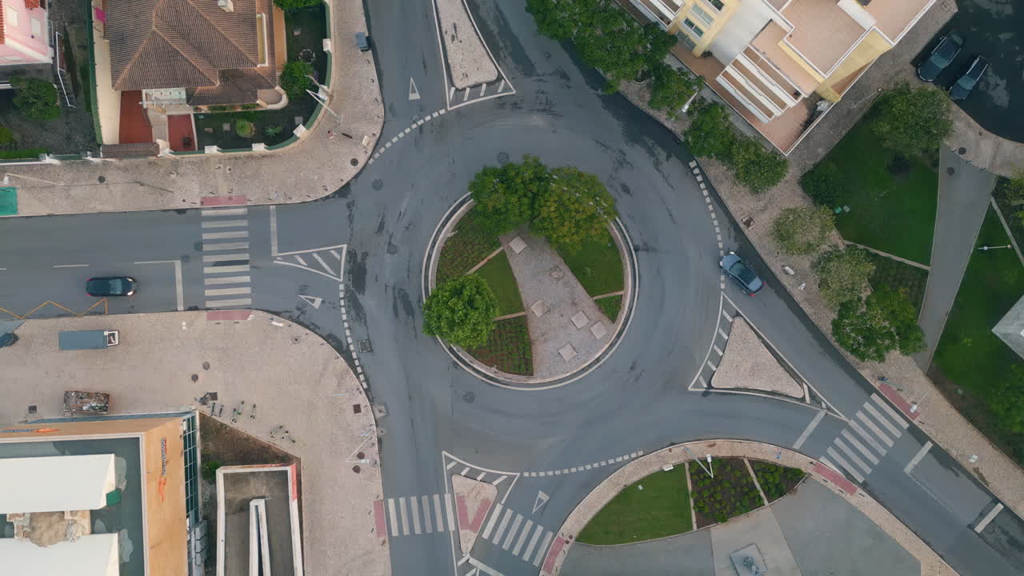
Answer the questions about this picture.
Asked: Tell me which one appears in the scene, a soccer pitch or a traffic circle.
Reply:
traffic circle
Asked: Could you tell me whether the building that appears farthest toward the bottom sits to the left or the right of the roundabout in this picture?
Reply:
to the left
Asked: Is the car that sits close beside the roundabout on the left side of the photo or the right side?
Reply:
right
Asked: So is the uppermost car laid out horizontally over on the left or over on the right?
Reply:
left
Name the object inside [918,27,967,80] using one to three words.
car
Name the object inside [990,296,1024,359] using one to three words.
building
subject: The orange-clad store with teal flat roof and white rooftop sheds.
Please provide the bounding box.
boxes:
[0,408,205,576]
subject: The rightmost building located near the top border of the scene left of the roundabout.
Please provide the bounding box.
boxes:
[109,0,293,149]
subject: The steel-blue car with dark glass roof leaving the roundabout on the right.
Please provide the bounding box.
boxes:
[718,252,766,297]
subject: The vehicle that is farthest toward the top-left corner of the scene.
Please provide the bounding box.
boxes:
[85,274,137,298]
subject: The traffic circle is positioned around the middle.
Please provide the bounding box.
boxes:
[322,74,737,489]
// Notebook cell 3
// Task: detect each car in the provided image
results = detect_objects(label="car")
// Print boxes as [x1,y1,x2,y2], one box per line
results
[718,252,766,297]
[947,53,993,103]
[0,328,16,354]
[85,274,137,298]
[918,27,967,80]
